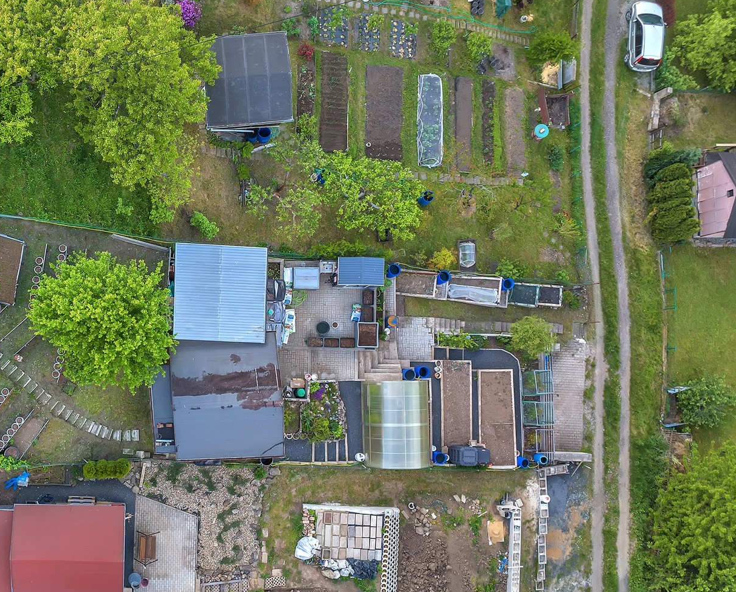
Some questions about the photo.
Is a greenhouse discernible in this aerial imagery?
Yes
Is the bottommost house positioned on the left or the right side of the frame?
left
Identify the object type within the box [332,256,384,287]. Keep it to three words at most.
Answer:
shed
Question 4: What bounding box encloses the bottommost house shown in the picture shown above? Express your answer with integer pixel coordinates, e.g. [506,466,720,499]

[0,499,125,592]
